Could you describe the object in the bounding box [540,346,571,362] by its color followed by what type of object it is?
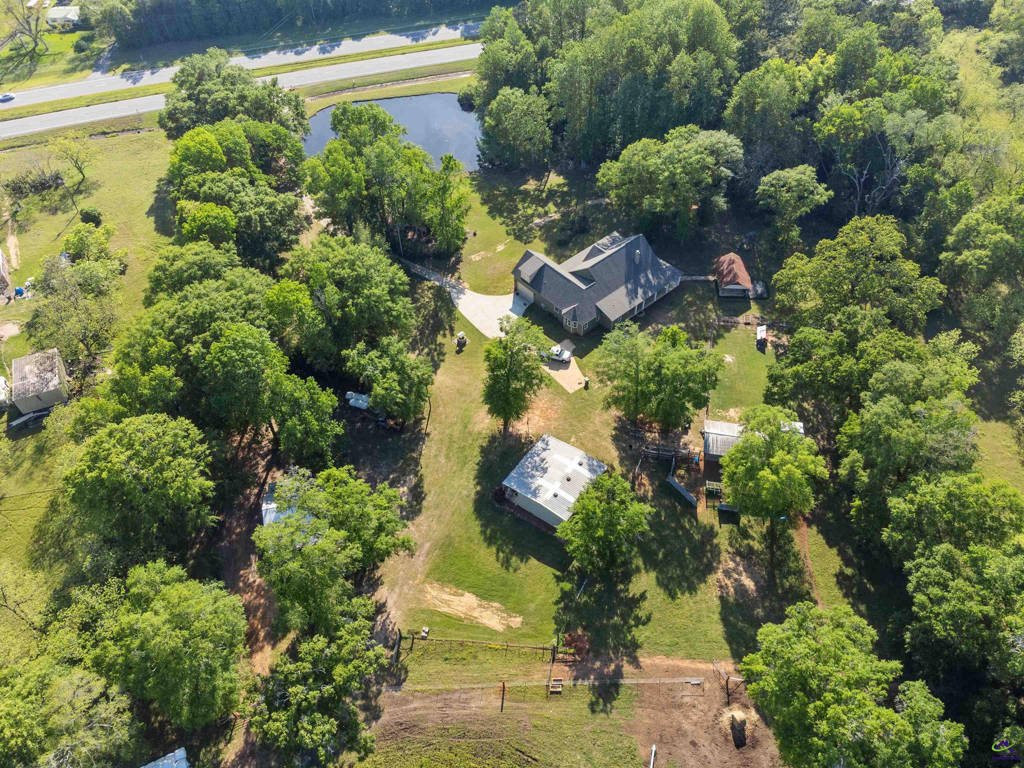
white vehicle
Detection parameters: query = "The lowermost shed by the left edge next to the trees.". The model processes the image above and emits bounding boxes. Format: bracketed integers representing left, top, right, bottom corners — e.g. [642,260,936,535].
[11,348,67,412]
